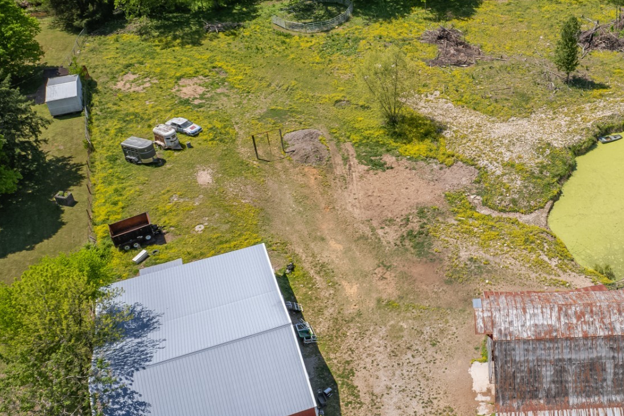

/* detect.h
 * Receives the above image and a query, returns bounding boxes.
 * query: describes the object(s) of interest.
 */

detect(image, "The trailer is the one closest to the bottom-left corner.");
[108,213,170,247]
